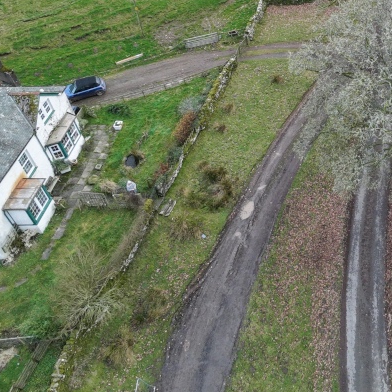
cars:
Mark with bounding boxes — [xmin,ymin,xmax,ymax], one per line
[67,75,107,104]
